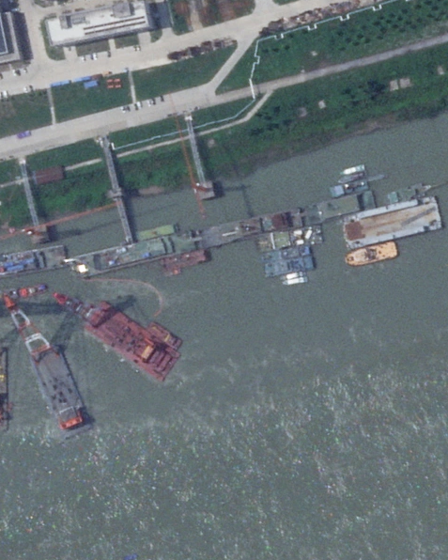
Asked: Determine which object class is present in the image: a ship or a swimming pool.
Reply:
ship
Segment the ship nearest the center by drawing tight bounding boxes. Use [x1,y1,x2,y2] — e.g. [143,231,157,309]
[162,250,207,276]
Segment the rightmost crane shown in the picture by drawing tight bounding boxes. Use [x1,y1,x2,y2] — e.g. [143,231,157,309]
[168,89,209,220]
